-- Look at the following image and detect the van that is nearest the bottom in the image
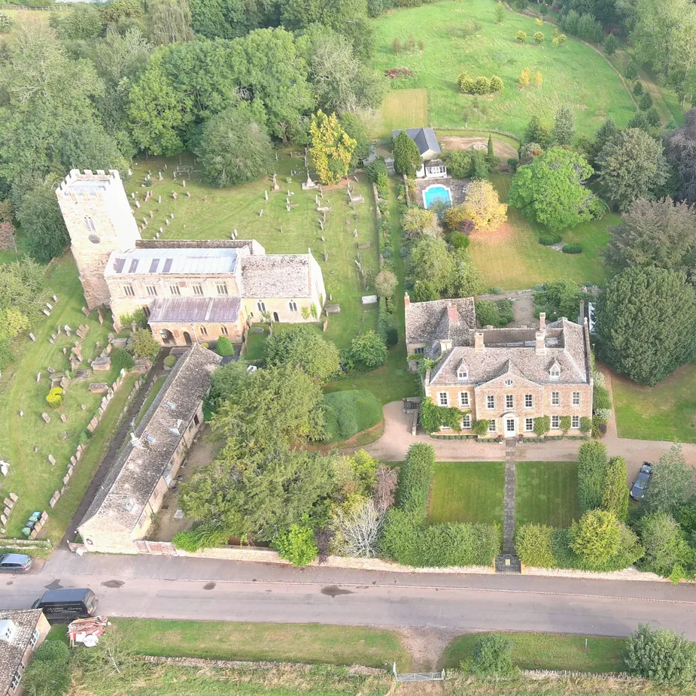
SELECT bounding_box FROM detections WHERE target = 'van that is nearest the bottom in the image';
[36,591,94,621]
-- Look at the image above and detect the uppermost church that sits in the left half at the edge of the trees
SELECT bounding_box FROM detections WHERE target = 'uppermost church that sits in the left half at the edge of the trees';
[48,161,334,348]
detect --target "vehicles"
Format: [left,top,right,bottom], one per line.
[631,464,654,496]
[0,553,32,574]
[36,591,94,621]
